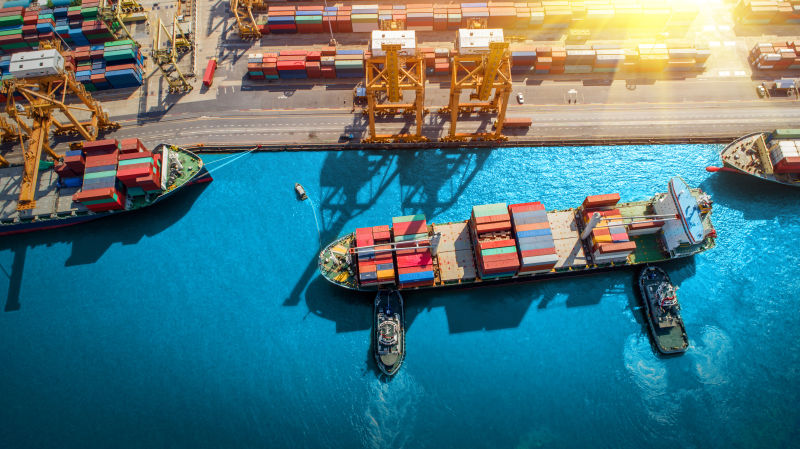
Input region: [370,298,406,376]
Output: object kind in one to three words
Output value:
boat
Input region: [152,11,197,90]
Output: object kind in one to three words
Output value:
container crane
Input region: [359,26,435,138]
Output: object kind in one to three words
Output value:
container crane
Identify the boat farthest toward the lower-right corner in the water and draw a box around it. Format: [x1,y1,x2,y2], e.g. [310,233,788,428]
[641,264,696,352]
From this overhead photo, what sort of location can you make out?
port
